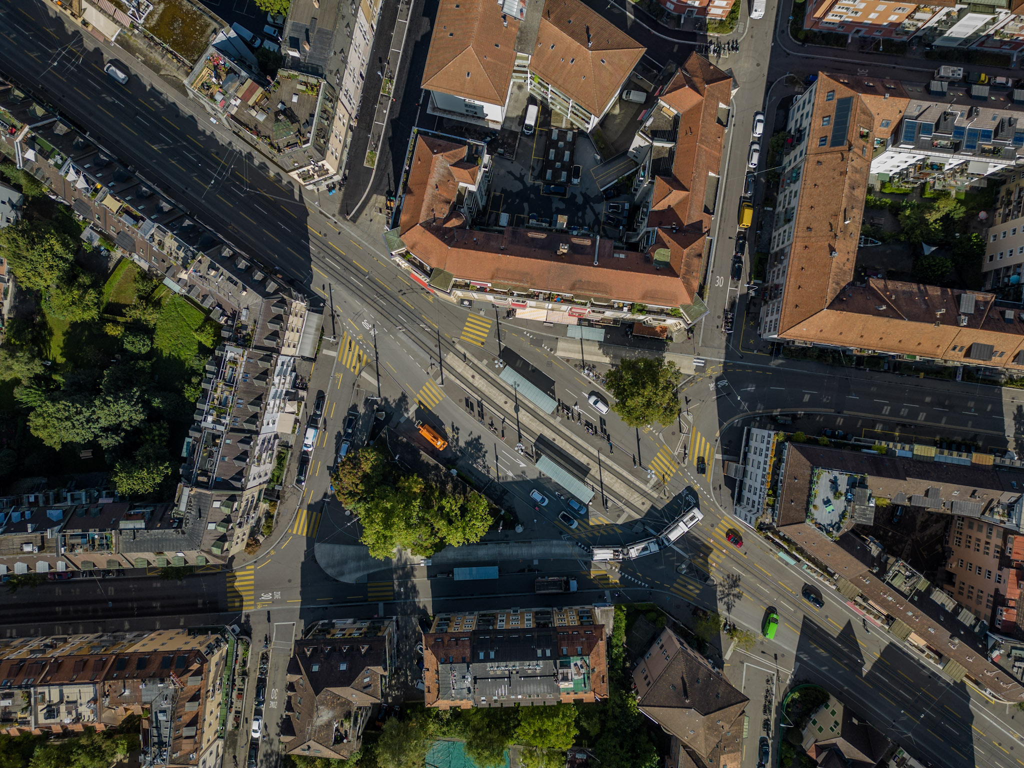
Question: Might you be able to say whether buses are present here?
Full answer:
Yes, a bus is visible in the scene.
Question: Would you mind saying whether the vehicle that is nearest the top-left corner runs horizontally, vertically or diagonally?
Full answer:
The vehicle that is nearest the top-left corner is laid out diagonally.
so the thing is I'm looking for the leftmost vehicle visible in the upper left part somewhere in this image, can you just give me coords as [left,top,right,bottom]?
[104,64,131,86]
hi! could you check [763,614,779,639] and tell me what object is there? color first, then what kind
green vehicle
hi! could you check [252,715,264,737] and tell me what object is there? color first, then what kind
white vehicle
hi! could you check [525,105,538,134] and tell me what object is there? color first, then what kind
white vehicle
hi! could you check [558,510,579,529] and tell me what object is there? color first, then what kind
black car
